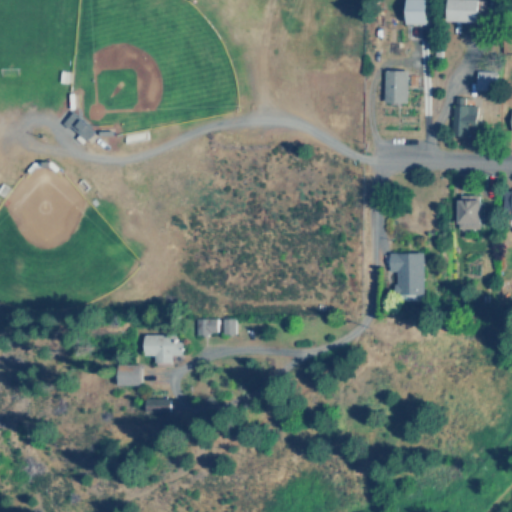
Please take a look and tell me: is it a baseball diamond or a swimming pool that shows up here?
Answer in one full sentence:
It is a baseball diamond that can be seen here.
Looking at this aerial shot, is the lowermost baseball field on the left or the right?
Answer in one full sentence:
The lowermost baseball field appears in the left half of the scene.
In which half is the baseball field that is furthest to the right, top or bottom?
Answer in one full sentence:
The top half of the photo is where the baseball field that is furthest to the right is.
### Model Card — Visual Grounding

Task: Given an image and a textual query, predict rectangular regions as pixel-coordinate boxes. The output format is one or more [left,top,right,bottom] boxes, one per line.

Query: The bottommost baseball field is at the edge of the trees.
[0,166,140,306]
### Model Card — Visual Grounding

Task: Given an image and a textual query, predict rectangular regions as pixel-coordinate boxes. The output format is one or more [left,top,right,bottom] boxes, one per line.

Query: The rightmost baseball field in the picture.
[77,0,239,128]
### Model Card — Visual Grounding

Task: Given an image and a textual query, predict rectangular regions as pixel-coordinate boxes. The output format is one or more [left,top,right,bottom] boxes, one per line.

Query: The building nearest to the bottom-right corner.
[390,253,426,300]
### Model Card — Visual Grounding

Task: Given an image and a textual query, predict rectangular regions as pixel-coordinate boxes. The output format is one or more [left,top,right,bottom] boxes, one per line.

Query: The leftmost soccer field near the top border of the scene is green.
[0,0,80,106]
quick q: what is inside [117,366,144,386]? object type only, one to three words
building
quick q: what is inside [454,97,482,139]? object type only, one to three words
house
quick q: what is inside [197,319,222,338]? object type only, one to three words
house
